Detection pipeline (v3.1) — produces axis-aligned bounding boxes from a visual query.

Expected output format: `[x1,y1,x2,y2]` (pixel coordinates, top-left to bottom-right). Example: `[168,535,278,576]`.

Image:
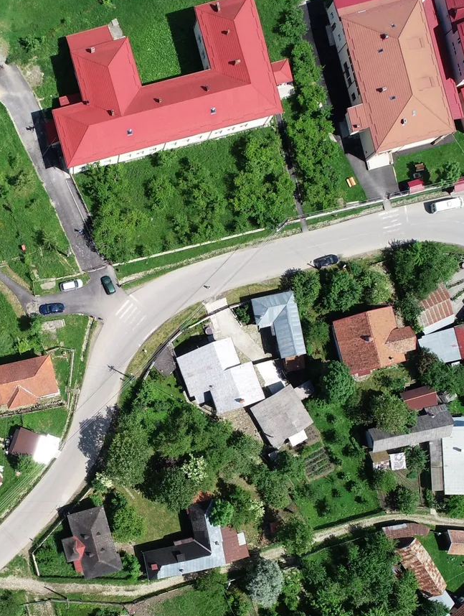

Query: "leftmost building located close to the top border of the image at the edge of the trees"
[45,0,294,175]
